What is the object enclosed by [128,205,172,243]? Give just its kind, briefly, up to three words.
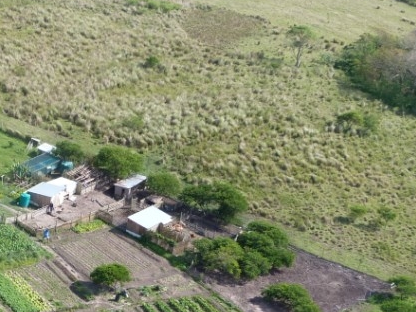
shed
